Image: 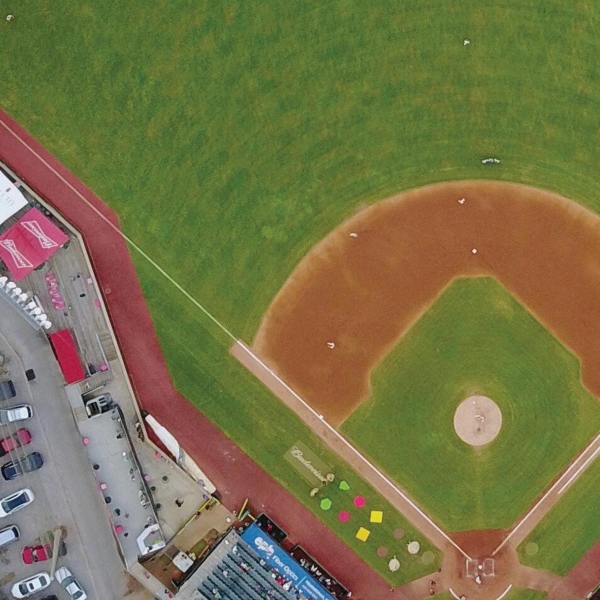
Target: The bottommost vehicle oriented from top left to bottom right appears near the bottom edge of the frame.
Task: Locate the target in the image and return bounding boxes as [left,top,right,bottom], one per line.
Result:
[54,563,87,600]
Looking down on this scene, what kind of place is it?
sports ground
